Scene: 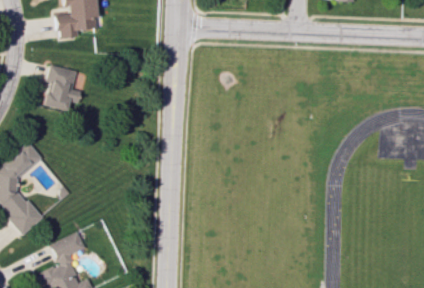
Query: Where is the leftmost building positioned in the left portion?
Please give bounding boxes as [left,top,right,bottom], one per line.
[0,142,46,236]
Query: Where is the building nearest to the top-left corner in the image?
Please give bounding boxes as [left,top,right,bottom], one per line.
[55,0,98,38]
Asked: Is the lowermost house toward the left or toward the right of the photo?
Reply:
left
